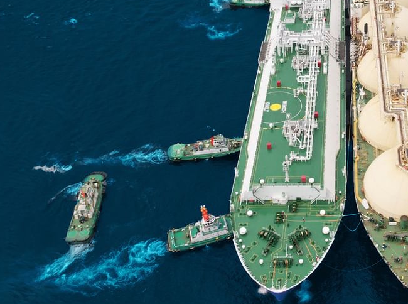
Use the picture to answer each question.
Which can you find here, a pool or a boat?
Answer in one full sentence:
It is a boat that can be seen here.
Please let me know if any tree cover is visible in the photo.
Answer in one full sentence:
No, the scene doesn't show any tree cover.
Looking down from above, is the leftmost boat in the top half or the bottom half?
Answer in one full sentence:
It is in the bottom half that the leftmost boat appears.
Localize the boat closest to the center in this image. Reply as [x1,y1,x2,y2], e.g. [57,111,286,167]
[167,125,242,162]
